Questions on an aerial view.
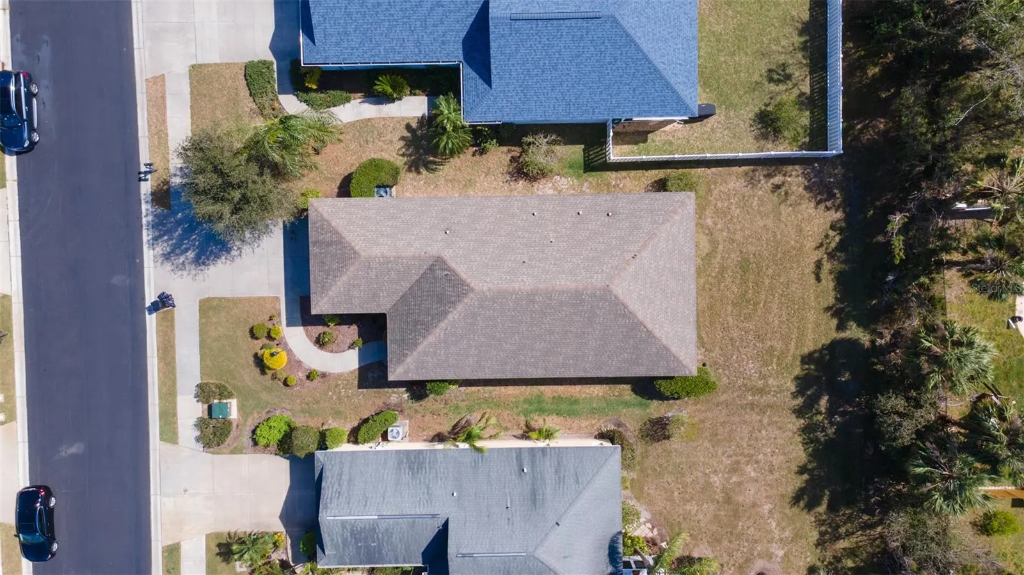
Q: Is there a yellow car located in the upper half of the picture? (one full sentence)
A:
No, the scene shows no yellow car in the upper half of the picture.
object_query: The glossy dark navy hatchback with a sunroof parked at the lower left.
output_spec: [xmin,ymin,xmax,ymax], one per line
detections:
[13,484,58,562]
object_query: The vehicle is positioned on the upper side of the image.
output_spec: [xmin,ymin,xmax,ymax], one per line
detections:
[0,67,38,151]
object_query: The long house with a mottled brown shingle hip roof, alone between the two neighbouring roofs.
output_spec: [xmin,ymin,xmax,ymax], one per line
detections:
[308,192,699,381]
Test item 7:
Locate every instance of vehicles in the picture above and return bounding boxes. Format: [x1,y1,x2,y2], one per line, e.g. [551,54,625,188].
[13,484,58,562]
[0,67,38,151]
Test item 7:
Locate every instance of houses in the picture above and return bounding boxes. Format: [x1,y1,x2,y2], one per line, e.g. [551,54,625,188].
[314,437,624,575]
[300,0,704,127]
[308,192,699,381]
